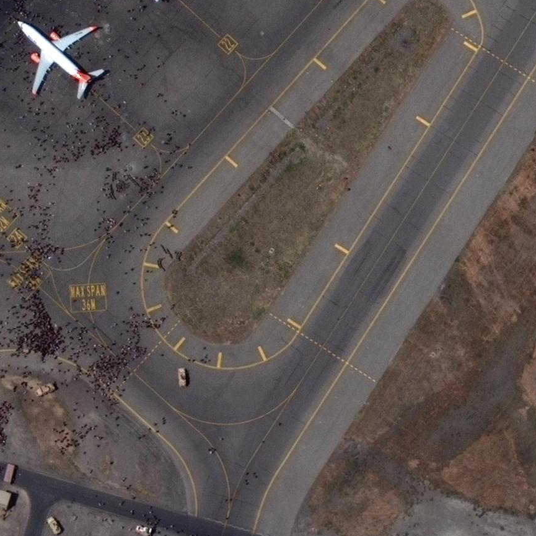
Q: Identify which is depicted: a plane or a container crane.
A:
plane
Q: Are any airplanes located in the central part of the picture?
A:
No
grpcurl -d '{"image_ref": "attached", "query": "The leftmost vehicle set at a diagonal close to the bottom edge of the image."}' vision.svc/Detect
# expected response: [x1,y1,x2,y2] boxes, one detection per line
[48,516,62,534]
